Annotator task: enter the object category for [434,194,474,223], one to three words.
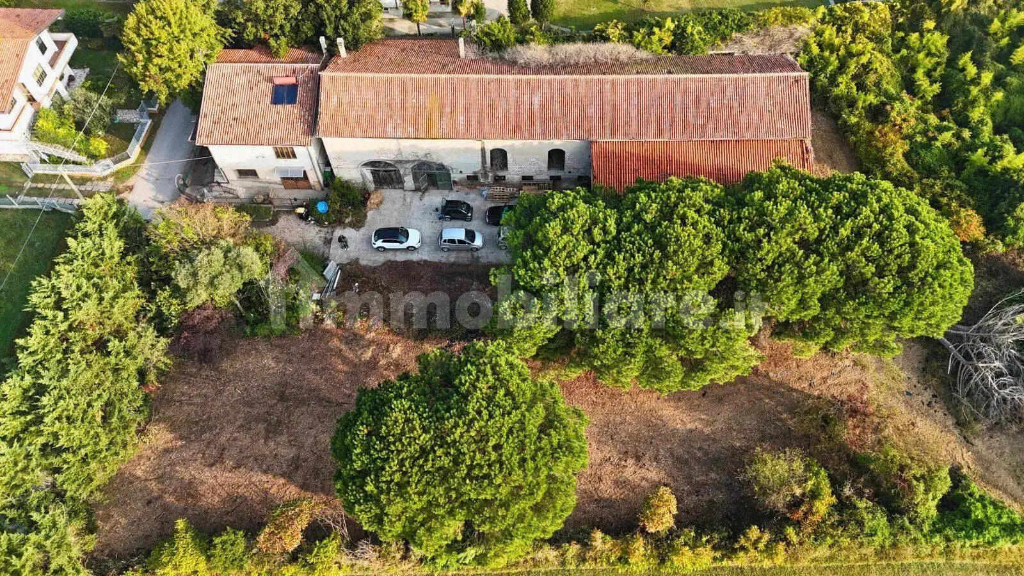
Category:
car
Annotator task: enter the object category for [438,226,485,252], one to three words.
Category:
car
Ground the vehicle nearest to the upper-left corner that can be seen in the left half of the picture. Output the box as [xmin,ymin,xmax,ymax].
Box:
[371,225,422,252]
